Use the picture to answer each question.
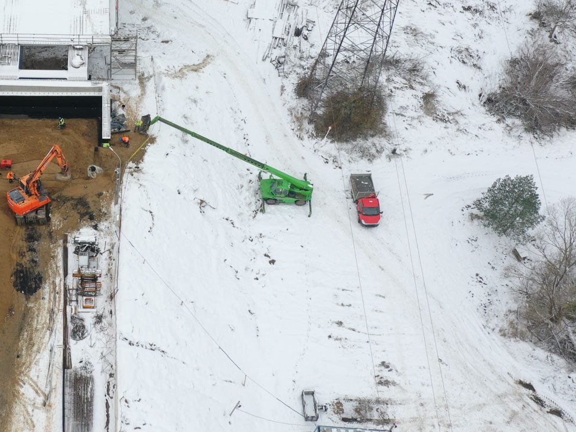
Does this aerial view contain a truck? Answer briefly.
Yes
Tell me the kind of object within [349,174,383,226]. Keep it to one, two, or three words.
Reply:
truck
